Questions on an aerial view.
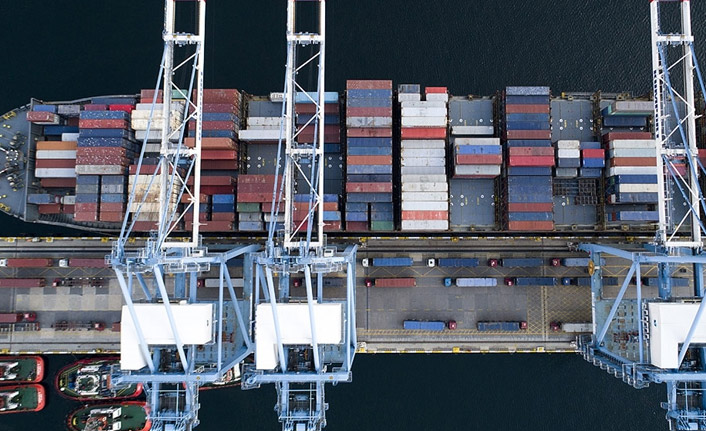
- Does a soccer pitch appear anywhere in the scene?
No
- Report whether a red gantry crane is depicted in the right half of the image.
No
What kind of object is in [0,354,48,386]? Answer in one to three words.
boat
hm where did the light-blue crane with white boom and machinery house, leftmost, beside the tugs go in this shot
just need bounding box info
[110,0,276,431]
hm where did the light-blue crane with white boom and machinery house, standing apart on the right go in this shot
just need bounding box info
[560,0,706,431]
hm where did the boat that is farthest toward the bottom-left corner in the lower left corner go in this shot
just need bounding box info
[0,383,48,417]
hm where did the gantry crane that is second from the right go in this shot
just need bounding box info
[241,0,376,431]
